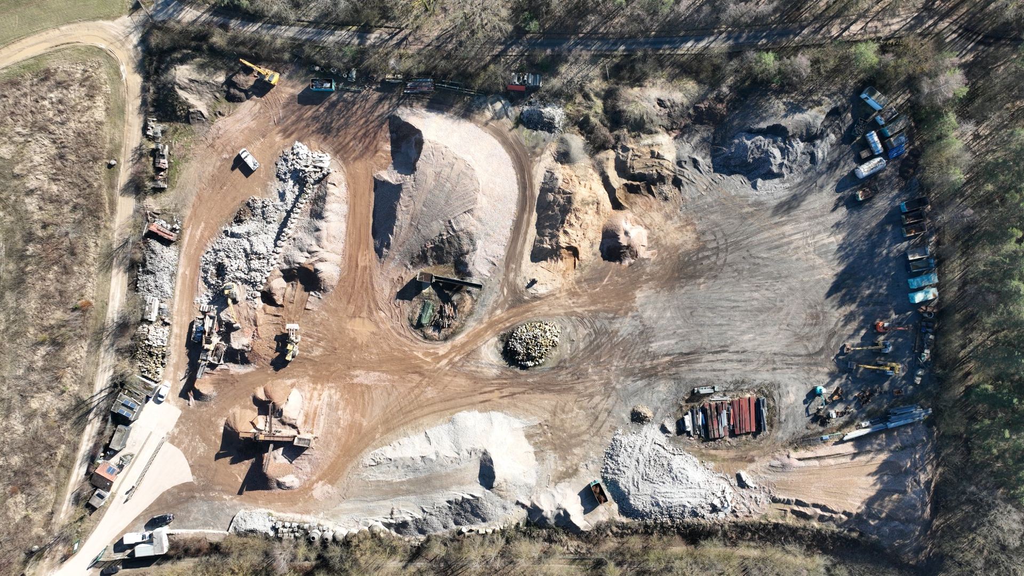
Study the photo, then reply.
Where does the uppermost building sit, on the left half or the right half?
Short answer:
left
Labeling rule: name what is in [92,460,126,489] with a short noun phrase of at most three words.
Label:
house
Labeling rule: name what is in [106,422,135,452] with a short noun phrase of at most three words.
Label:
shed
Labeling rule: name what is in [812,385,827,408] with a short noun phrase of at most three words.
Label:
work vehicle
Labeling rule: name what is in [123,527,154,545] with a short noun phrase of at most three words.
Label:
vehicle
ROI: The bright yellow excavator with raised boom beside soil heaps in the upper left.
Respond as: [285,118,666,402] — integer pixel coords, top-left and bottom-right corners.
[235,53,283,91]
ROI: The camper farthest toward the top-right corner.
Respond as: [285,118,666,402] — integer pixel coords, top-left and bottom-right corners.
[855,86,889,113]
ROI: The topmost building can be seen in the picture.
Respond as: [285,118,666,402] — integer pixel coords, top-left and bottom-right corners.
[111,390,149,421]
